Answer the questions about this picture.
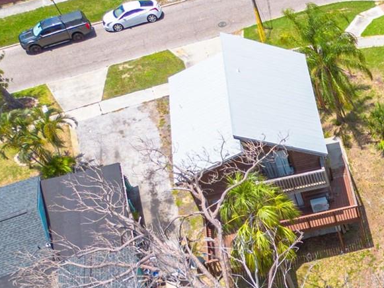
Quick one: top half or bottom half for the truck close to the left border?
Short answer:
top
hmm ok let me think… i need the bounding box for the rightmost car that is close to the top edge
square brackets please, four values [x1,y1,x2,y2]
[97,0,165,30]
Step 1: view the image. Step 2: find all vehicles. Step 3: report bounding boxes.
[9,0,95,51]
[97,0,165,30]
